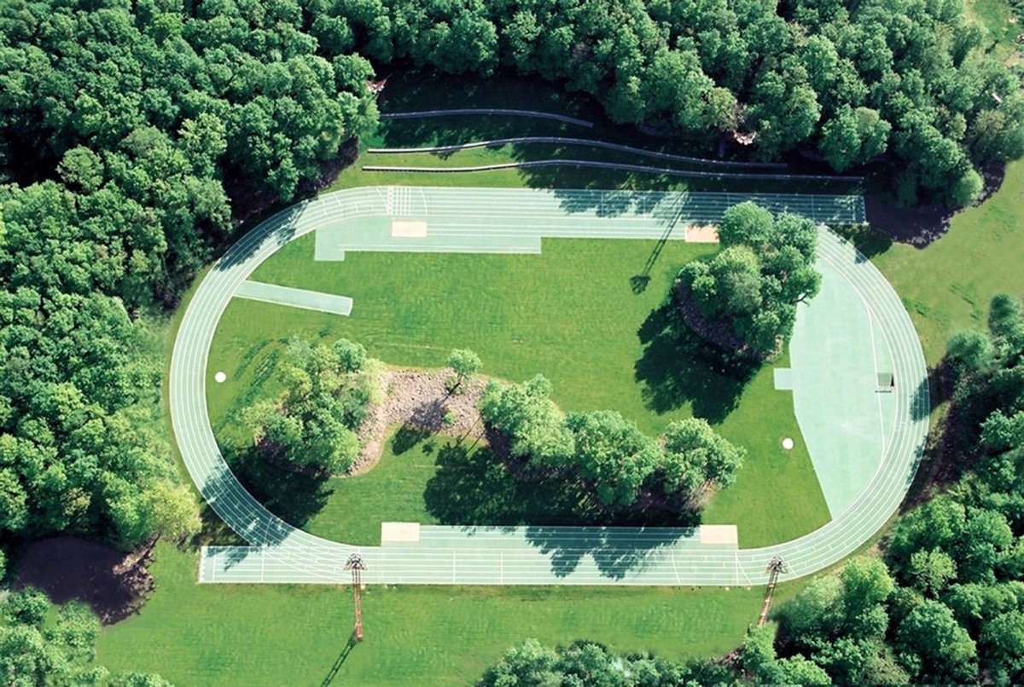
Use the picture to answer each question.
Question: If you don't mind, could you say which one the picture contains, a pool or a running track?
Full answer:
The image shows a running track.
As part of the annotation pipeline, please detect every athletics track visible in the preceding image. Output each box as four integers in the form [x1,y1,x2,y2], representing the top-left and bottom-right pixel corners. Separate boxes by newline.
[169,185,930,585]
